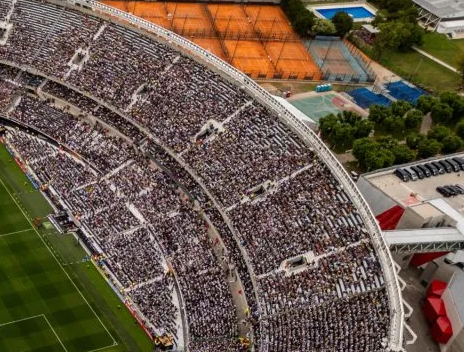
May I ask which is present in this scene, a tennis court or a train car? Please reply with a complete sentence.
The one in the frame is a tennis court.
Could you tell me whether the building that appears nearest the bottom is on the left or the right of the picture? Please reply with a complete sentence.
The building that appears nearest the bottom appears in the right half of the scene.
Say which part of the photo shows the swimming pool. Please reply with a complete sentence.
The swimming pool is in the top right part of the image.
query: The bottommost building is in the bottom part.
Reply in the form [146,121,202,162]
[410,248,464,352]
